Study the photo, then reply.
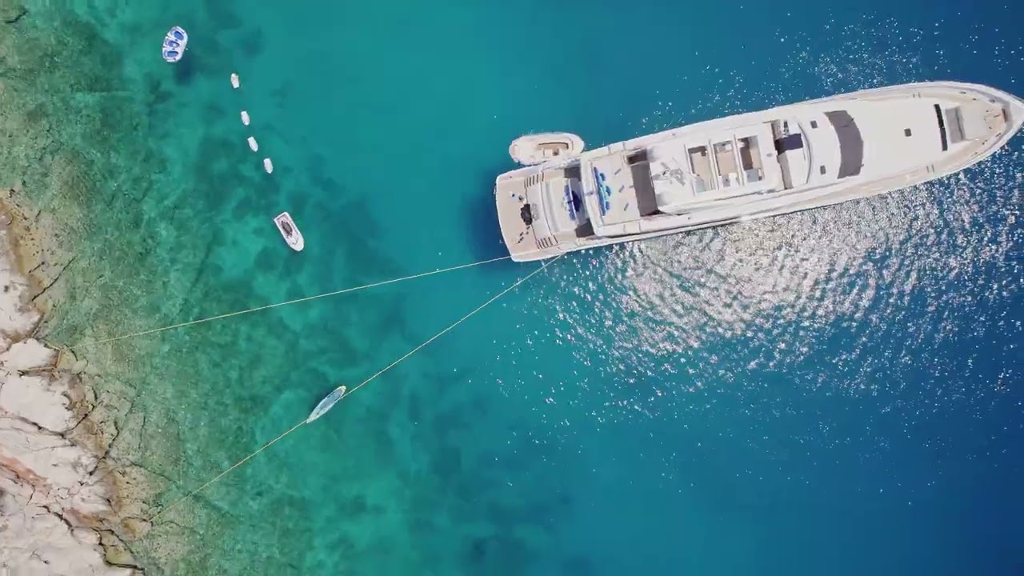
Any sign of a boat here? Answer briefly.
Yes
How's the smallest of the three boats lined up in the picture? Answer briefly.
on a diagonal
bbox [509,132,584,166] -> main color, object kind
white boat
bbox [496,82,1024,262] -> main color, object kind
white boat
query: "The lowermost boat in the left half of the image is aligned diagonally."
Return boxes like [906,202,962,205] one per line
[272,212,303,249]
